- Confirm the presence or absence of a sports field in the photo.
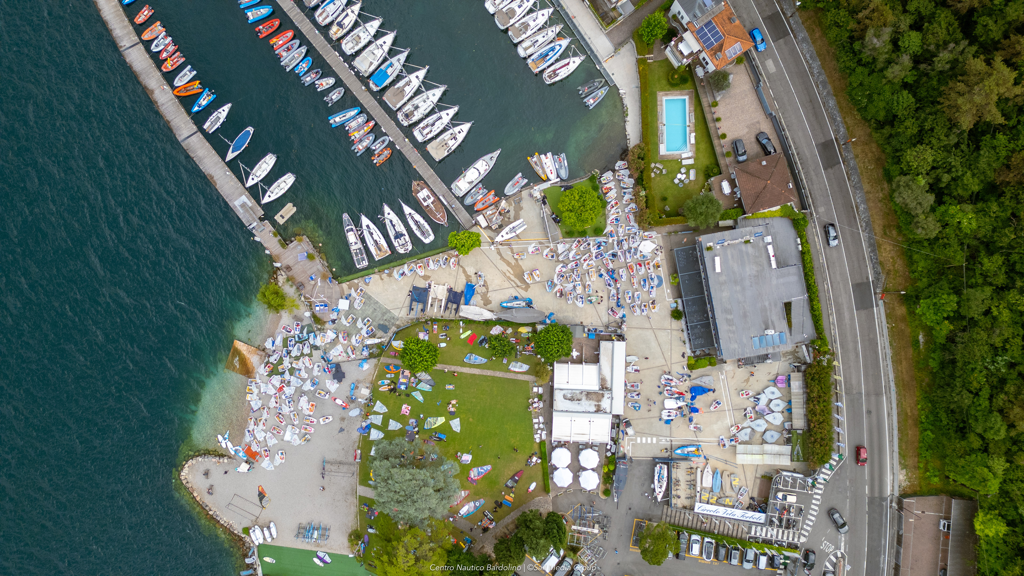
No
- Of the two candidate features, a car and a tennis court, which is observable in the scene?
car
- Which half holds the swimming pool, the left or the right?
right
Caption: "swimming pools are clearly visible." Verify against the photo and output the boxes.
[657,90,695,160]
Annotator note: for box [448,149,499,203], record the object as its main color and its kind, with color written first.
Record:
white boat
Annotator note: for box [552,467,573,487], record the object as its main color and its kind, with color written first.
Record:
white umbrella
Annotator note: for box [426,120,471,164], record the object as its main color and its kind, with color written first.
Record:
white boat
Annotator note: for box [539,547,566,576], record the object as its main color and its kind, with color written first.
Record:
white vehicle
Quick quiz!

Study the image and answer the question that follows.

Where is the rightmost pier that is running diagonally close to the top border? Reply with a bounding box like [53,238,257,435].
[551,0,614,86]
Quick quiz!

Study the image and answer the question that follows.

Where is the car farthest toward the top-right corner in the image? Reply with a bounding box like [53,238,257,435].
[748,27,766,53]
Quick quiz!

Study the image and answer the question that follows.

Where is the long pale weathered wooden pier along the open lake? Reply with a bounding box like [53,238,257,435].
[93,0,264,227]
